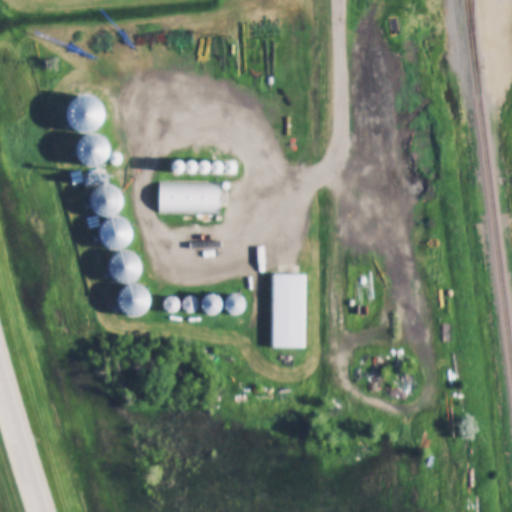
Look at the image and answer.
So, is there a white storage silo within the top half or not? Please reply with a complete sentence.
Yes, looking within the top half, one can make out a white storage silo.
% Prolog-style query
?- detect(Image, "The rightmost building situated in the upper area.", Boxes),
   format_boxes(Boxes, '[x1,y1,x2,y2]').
[158,181,220,213]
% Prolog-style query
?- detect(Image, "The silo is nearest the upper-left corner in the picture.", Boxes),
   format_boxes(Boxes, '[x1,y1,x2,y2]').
[66,92,106,133]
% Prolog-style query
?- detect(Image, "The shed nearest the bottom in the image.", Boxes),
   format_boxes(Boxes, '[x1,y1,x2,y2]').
[272,273,308,349]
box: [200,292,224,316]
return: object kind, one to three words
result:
silo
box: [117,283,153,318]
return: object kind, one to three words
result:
silo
